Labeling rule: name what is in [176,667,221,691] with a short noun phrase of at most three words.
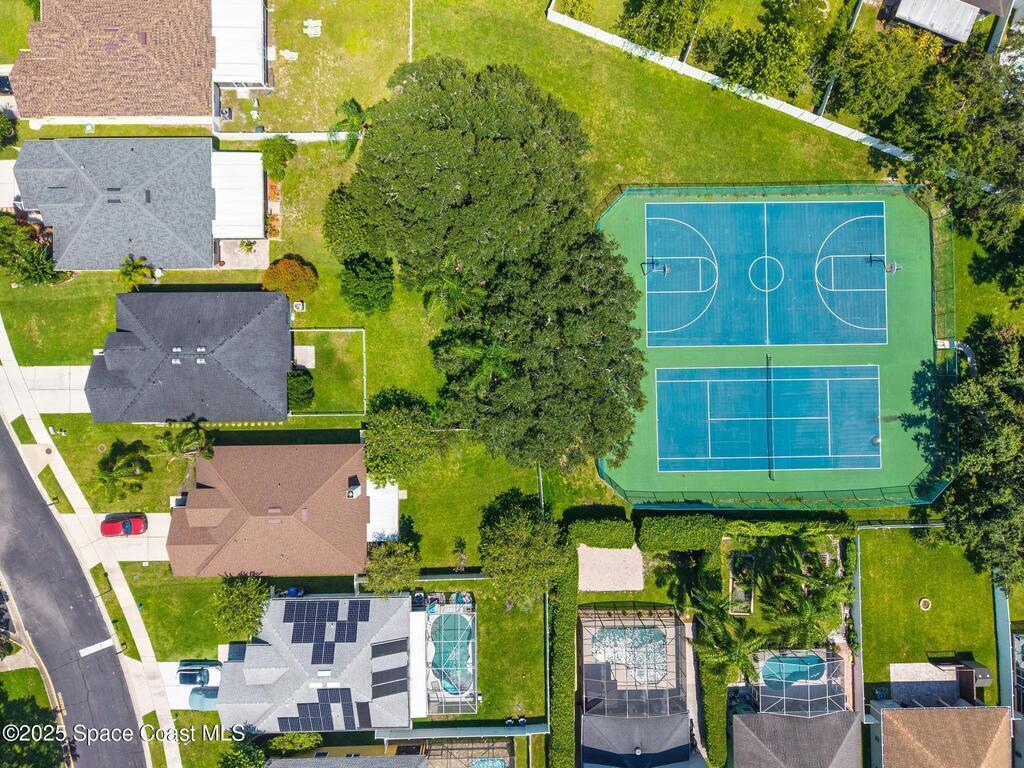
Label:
car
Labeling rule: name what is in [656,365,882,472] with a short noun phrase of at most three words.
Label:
tennis court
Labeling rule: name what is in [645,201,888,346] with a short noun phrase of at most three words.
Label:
basketball court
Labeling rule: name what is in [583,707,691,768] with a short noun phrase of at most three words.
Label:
house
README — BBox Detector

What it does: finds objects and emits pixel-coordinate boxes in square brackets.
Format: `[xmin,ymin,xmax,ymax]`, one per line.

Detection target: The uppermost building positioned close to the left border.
[9,0,272,125]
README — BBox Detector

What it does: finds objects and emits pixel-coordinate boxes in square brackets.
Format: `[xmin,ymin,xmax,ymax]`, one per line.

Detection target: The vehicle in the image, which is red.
[99,517,148,539]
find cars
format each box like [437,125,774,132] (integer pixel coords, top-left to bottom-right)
[176,667,221,691]
[0,75,13,95]
[99,517,148,539]
[188,689,218,712]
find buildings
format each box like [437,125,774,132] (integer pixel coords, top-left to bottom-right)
[583,707,691,768]
[9,0,272,125]
[872,697,1012,768]
[888,0,1010,44]
[265,744,430,768]
[165,444,402,577]
[728,705,862,768]
[84,292,292,426]
[216,594,430,732]
[12,137,272,271]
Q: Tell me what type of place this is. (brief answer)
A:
residential area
